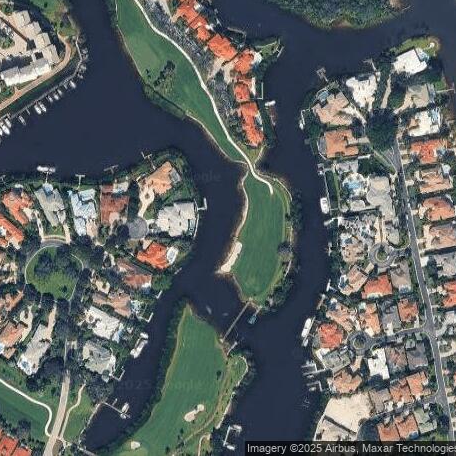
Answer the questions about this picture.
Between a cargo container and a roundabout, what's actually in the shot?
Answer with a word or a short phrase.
roundabout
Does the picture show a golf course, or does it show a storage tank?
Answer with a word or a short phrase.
golf course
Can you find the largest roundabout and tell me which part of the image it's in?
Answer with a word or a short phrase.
left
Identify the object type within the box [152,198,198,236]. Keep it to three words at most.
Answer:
house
